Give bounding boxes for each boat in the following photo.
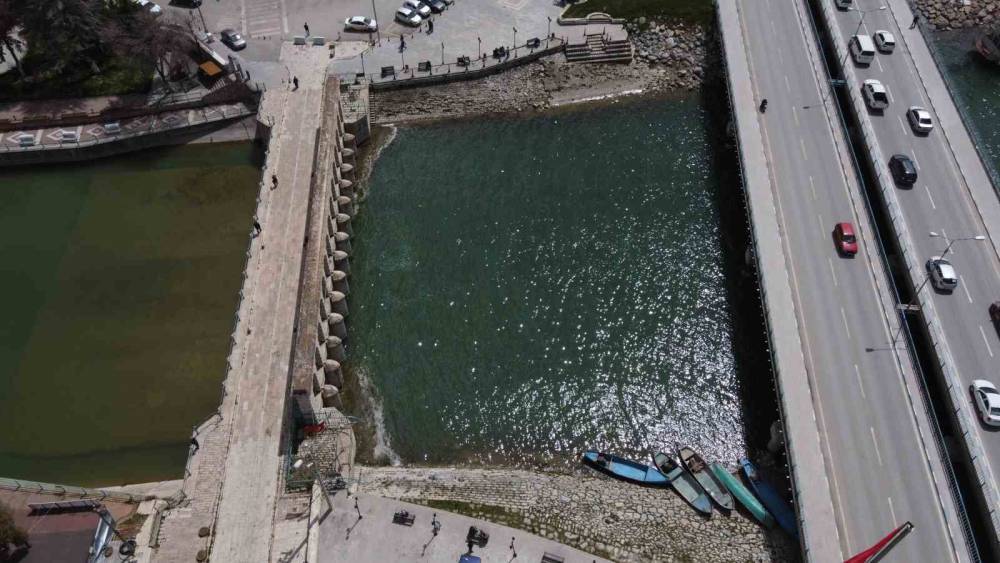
[652,453,711,515]
[710,461,775,527]
[679,448,733,509]
[582,453,673,487]
[738,458,800,538]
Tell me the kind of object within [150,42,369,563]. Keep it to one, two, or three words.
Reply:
bridge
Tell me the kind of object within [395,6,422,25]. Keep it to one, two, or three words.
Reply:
car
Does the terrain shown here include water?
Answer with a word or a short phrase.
Yes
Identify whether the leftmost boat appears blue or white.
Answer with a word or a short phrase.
blue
